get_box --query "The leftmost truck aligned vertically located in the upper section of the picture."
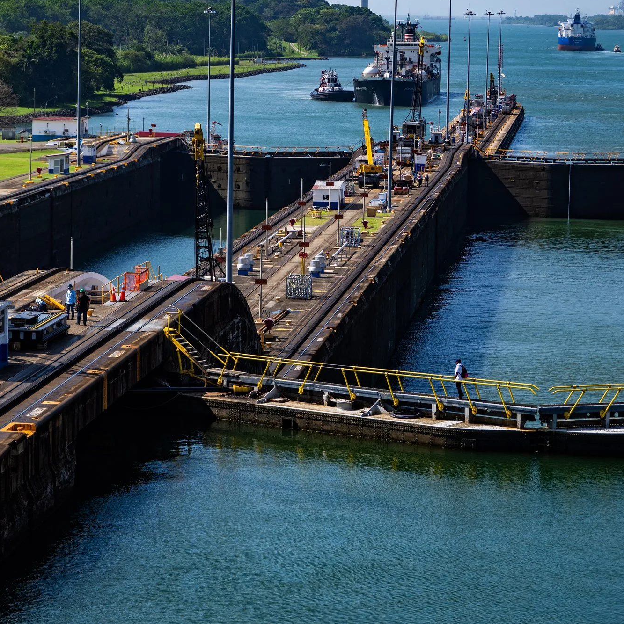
[351,103,389,187]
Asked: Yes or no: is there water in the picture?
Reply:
Yes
